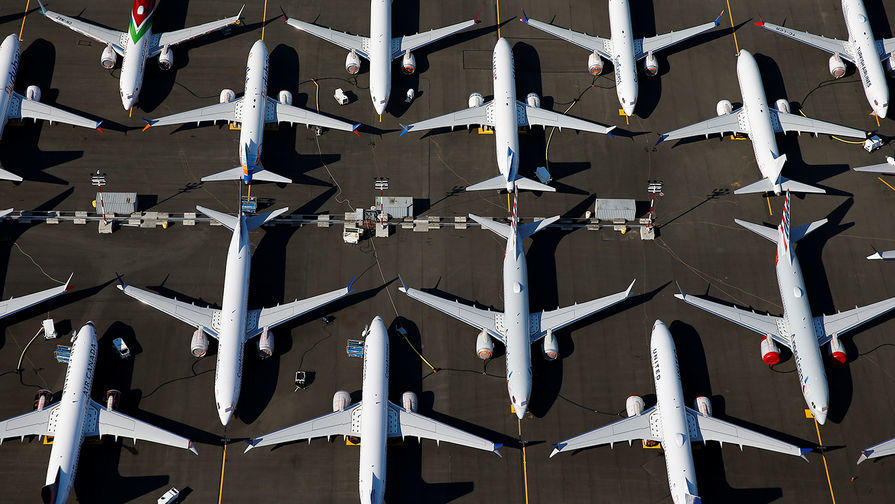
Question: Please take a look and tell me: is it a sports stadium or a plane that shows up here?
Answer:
plane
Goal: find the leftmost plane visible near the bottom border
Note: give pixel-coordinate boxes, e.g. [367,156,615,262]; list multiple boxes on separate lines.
[0,322,197,504]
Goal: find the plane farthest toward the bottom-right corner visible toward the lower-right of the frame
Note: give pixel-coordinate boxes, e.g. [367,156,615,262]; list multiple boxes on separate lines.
[857,438,895,466]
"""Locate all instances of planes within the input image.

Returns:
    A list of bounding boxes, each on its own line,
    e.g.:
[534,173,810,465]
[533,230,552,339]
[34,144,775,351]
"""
[399,186,636,420]
[279,0,482,115]
[758,0,895,118]
[657,51,875,196]
[142,40,362,184]
[0,322,197,504]
[857,438,895,466]
[677,190,895,424]
[116,178,356,426]
[39,0,244,110]
[521,0,723,115]
[399,39,617,194]
[0,38,101,147]
[243,316,505,504]
[551,321,811,504]
[0,273,73,322]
